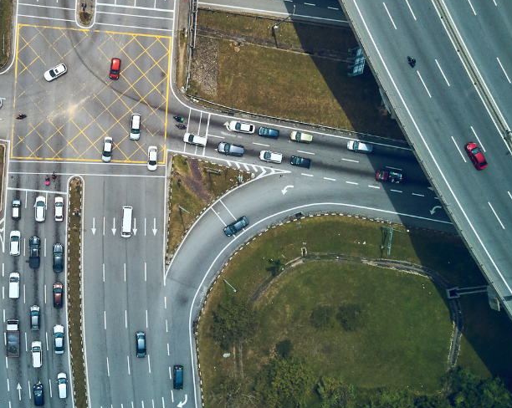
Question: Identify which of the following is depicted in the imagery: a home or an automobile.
automobile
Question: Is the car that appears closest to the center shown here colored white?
No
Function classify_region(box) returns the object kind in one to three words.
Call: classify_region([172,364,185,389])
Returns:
vehicle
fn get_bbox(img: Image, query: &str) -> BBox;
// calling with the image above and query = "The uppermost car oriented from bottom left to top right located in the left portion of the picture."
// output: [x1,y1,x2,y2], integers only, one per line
[44,63,68,82]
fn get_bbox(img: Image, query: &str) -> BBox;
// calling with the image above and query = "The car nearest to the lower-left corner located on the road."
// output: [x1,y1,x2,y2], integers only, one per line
[32,382,45,407]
